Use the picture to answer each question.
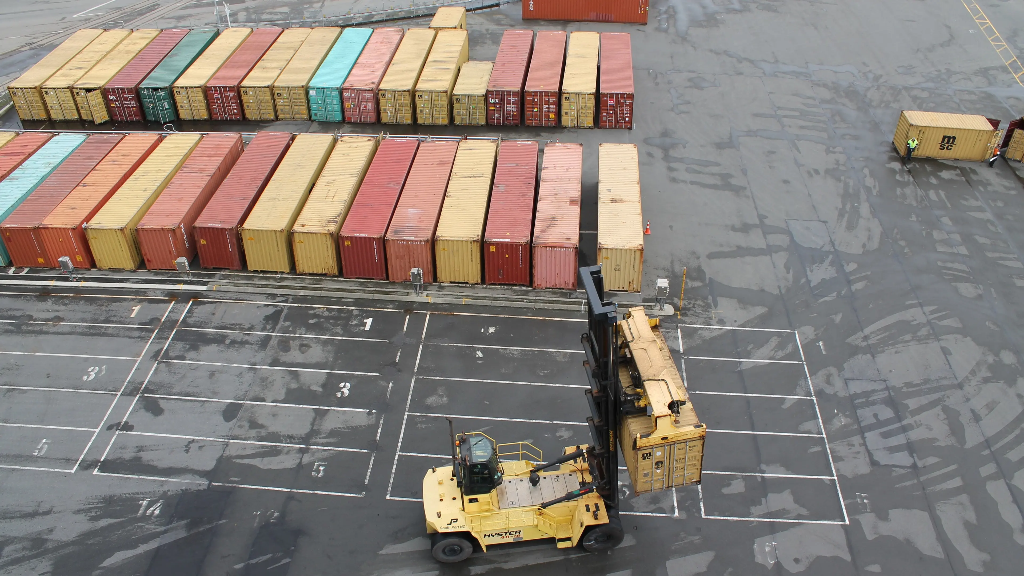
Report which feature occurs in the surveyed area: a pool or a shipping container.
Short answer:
shipping container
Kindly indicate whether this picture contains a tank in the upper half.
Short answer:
No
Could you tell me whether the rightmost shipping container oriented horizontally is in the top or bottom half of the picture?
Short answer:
top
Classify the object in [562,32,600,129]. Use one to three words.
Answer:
shipping container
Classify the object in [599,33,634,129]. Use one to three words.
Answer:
shipping container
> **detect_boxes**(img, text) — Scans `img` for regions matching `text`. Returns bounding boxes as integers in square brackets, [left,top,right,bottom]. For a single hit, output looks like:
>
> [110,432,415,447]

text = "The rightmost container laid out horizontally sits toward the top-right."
[898,110,1002,162]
